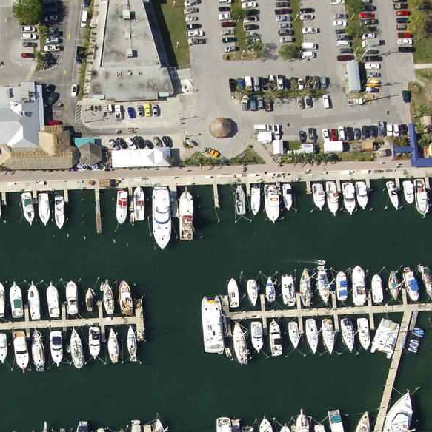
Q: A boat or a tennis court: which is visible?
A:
boat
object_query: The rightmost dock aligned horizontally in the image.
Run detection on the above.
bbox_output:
[221,288,432,336]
